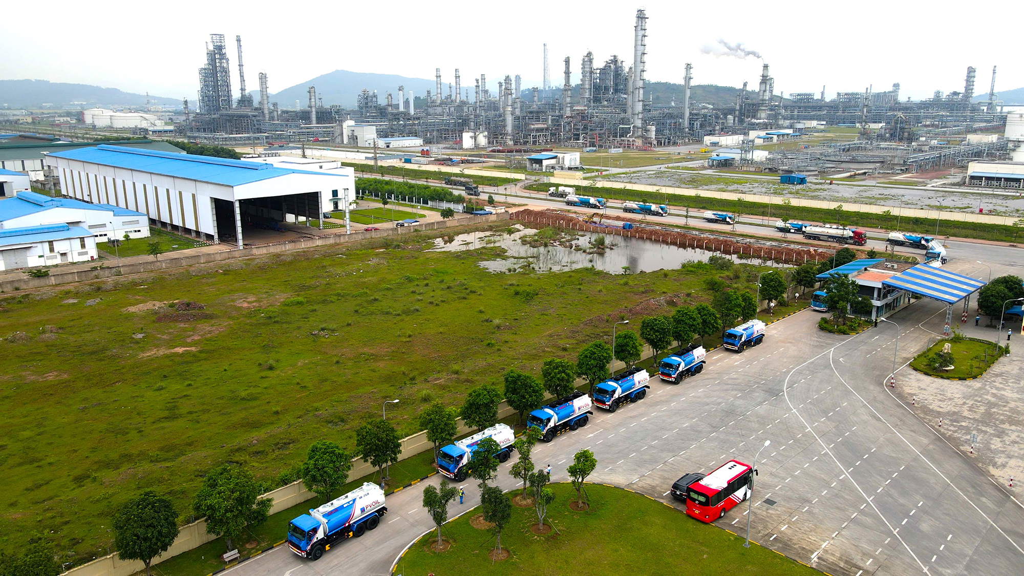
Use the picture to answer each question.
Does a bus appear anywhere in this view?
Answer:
Yes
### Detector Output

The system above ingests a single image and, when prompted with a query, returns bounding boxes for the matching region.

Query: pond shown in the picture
[425,223,794,274]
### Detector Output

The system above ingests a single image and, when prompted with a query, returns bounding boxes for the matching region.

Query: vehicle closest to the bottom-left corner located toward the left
[280,483,394,562]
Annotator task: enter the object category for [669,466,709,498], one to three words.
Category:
car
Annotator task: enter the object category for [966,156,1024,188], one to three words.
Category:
building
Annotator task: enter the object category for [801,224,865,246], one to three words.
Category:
truck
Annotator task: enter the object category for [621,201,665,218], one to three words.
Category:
vehicle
